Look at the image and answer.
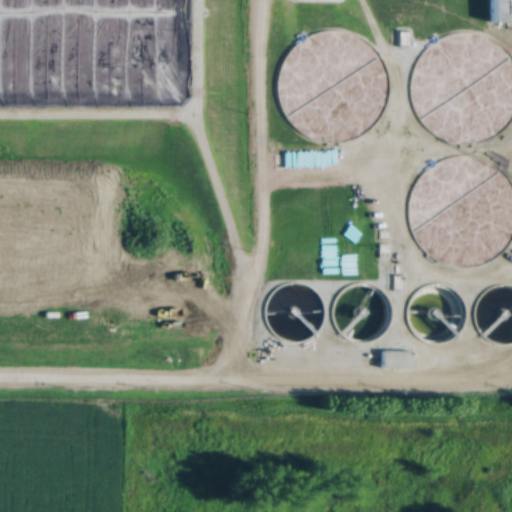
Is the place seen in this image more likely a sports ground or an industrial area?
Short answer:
industrial area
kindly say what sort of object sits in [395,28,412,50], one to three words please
building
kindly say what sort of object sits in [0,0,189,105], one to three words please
pond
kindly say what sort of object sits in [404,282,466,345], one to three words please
storage tank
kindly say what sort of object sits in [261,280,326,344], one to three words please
storage tank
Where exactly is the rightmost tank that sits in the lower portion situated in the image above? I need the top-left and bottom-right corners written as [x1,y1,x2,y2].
[474,282,512,346]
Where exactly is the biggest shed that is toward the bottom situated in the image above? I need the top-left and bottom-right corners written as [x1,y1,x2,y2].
[381,350,416,368]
